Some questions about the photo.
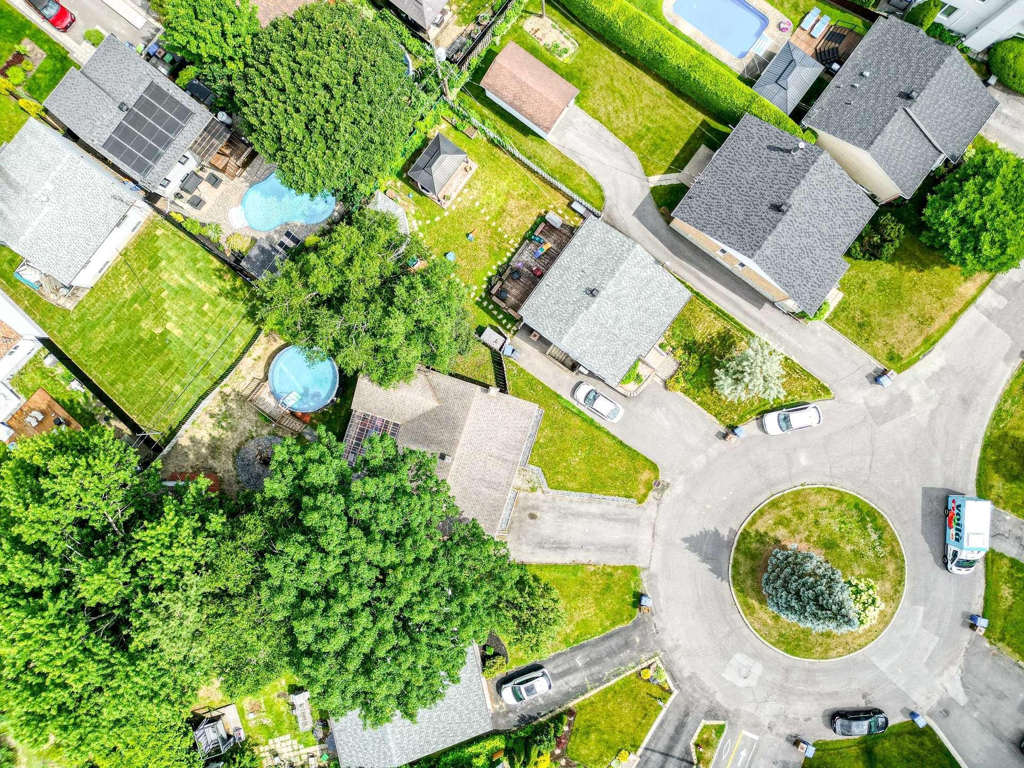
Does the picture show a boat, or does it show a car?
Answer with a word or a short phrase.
car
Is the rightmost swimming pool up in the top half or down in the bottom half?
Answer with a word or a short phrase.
top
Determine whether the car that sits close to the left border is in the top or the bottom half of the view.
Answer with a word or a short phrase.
top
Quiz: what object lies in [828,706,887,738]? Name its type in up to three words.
car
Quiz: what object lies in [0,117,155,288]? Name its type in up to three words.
house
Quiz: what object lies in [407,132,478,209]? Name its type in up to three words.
gazebo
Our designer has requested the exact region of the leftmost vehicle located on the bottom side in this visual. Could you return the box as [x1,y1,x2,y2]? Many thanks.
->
[498,665,554,705]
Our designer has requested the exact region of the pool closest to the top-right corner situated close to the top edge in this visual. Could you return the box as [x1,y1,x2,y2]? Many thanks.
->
[674,0,774,57]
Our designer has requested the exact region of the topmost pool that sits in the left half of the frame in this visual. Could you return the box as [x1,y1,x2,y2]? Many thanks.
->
[226,167,338,233]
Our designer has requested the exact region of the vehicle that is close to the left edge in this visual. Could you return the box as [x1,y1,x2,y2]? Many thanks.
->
[28,0,80,35]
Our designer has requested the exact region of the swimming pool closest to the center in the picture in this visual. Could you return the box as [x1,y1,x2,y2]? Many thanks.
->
[268,343,343,414]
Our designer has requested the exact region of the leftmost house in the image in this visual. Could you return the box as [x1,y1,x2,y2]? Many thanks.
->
[0,286,59,424]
